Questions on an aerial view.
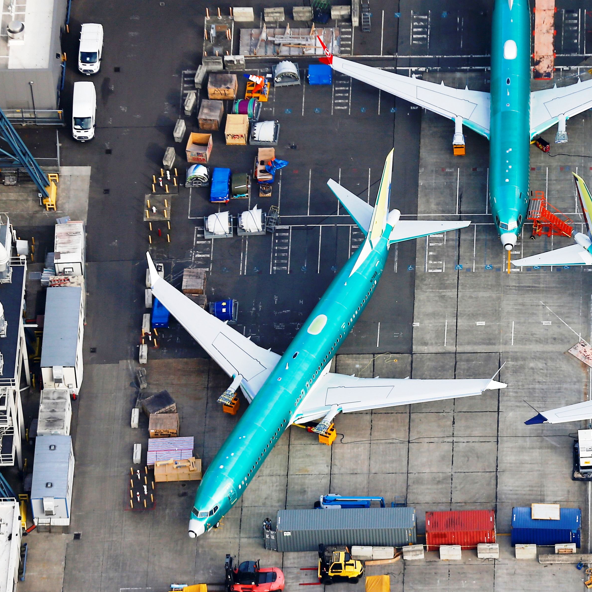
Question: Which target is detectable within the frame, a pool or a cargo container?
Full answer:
I can see a cargo container in this picture.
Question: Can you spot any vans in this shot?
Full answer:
Yes, there is a van in the image.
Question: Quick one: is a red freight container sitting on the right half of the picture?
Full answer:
Yes, a red freight container can be seen on the right half of the picture.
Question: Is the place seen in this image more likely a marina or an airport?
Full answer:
It's an airport.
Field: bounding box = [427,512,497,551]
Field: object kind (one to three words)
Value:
shipping container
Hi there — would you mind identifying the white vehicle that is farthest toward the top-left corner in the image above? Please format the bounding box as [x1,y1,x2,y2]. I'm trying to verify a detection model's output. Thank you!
[75,18,104,80]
